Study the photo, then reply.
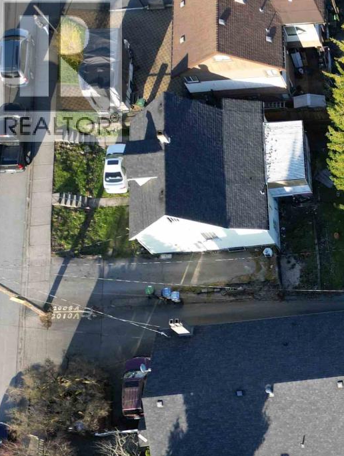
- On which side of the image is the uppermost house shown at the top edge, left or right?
right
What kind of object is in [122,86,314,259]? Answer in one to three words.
house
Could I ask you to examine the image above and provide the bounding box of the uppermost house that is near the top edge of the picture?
[167,0,333,106]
